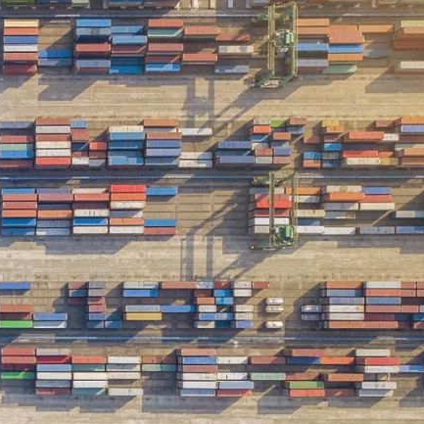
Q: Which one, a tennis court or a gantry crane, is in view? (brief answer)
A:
gantry crane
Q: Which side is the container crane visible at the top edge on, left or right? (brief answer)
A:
right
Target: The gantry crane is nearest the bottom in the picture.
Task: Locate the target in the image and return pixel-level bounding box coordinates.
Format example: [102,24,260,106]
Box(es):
[250,174,299,250]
